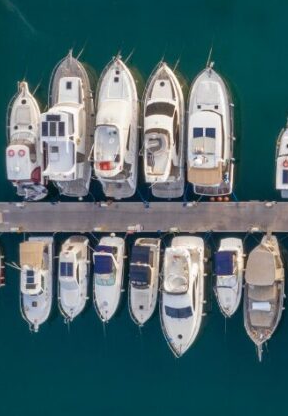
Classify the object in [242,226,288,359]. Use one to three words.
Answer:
boat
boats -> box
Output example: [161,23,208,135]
[41,49,99,204]
[242,226,288,359]
[159,229,212,359]
[13,187,45,200]
[273,123,288,202]
[127,229,165,330]
[140,55,190,205]
[89,230,130,331]
[4,231,58,337]
[4,74,44,203]
[54,231,94,326]
[184,49,237,205]
[90,51,146,204]
[212,230,248,323]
